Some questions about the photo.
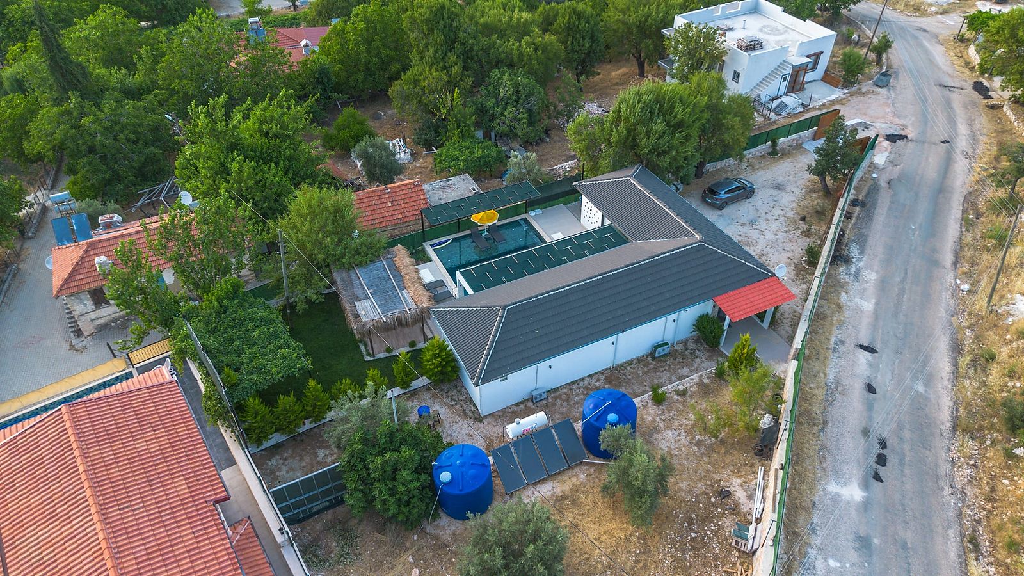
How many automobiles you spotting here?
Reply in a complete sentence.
In total, 1 automobile can be seen.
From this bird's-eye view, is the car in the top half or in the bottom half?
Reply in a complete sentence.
The top half of the photo is where the car is.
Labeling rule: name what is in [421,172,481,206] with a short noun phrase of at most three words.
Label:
shed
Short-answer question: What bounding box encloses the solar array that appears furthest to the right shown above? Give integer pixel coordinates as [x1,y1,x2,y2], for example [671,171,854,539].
[491,409,612,496]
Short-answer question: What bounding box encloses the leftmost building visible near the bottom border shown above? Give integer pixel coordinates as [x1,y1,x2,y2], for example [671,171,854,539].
[0,368,250,576]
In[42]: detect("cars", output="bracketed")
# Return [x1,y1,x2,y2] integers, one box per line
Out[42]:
[695,172,760,211]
